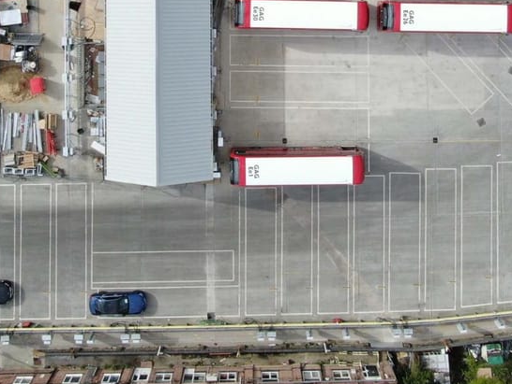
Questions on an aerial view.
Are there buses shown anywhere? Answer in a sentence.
Yes, a bus is visible in the scene.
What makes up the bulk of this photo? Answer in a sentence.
What you mostly see from above here is paved ground.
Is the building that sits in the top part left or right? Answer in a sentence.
You can find the building that sits in the top part on the left side of the picture.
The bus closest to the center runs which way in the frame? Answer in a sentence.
In this picture, the bus closest to the center is oriented from side to side.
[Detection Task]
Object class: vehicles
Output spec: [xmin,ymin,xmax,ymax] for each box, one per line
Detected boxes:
[375,0,512,36]
[0,280,13,305]
[90,289,146,318]
[234,0,368,32]
[231,144,364,184]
